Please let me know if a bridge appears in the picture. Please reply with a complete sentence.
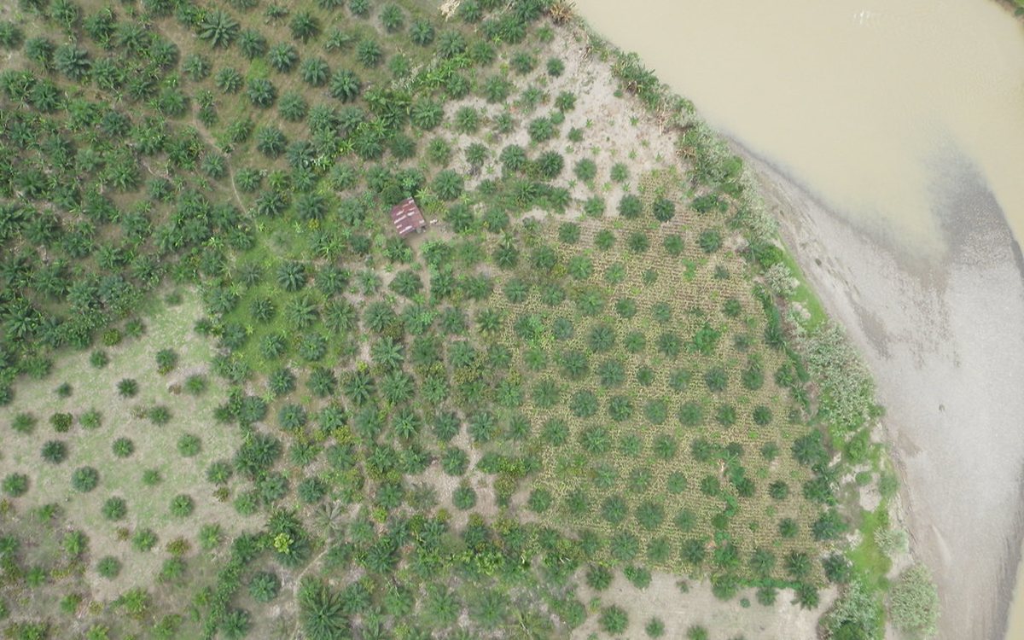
No, there appears to be no bridge in this shot.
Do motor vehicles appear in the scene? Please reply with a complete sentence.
No, the photo shows no motor vehicle.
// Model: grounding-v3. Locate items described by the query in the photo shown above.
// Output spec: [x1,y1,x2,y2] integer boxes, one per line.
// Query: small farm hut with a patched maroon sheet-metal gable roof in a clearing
[390,197,427,237]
